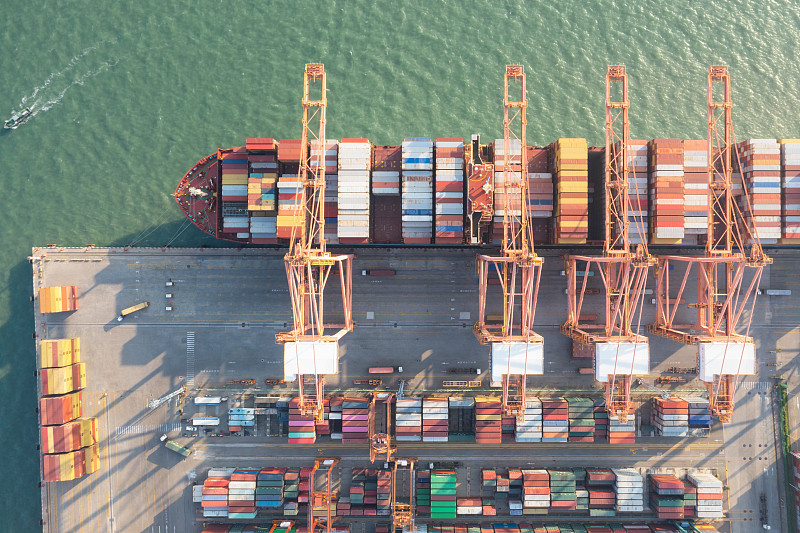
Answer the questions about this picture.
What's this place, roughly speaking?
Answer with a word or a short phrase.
port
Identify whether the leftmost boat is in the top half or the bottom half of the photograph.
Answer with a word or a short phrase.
top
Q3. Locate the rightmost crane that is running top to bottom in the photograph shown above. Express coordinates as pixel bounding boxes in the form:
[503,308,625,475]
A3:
[644,63,779,430]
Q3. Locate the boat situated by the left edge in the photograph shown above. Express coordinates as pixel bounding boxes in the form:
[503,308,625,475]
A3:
[3,106,30,127]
